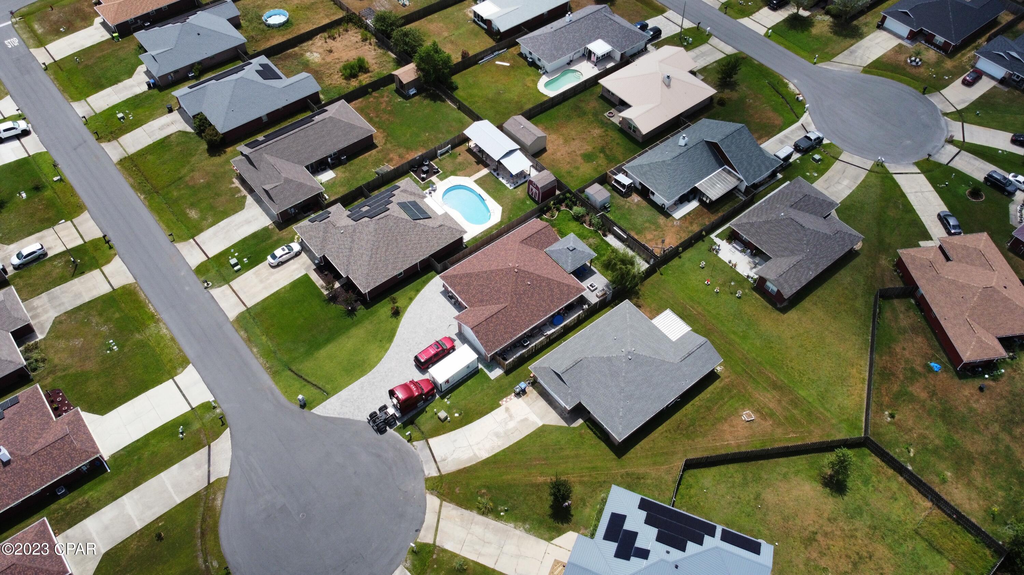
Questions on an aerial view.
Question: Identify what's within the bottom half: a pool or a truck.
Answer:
truck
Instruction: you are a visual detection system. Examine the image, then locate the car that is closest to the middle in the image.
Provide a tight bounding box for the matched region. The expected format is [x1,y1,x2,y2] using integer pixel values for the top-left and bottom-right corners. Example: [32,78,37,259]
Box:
[413,337,459,370]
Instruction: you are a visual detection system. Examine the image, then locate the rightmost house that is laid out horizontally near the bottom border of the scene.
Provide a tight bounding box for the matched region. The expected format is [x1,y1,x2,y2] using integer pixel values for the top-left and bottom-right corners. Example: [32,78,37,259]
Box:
[562,484,775,575]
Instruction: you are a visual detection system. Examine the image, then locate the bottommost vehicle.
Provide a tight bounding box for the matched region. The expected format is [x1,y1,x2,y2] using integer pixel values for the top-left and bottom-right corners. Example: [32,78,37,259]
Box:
[363,376,443,431]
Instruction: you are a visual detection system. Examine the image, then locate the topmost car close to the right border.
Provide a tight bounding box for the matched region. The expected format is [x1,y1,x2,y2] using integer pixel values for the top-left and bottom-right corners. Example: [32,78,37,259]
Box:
[960,66,985,84]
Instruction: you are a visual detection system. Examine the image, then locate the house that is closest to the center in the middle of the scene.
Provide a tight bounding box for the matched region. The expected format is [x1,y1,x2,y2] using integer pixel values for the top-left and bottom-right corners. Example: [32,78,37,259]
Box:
[438,217,587,363]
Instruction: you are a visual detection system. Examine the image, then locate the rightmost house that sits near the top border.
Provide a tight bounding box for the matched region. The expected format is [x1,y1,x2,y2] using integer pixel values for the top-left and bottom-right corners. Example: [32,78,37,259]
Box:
[972,19,1024,88]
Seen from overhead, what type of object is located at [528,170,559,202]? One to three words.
shed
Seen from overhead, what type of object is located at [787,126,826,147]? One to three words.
truck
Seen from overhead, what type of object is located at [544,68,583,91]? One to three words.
swimming pool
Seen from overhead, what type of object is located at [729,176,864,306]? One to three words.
house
